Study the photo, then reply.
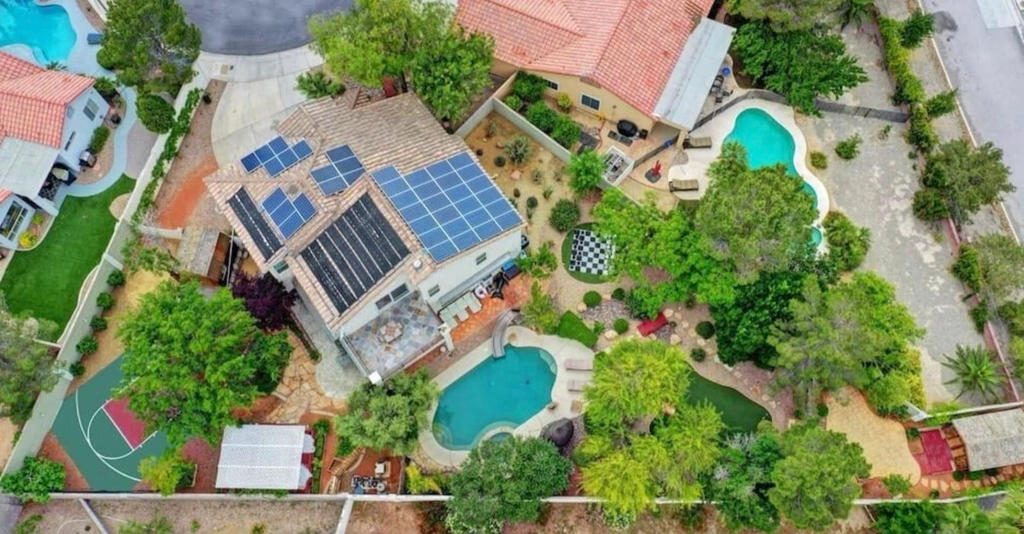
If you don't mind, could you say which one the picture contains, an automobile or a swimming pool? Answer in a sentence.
It is a swimming pool that can be seen here.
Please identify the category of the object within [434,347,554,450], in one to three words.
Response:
swimming pool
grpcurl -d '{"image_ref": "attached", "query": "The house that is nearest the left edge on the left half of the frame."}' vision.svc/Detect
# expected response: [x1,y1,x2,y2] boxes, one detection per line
[0,52,112,252]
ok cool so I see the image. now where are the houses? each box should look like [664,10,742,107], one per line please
[453,0,735,144]
[210,82,529,393]
[0,52,112,252]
